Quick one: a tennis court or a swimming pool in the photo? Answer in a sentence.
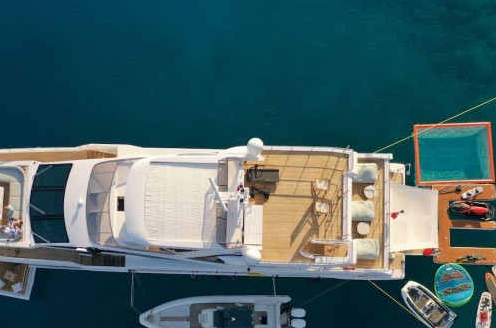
The one in the frame is a swimming pool.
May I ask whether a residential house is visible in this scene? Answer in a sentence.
No, no residential house is visible in the view.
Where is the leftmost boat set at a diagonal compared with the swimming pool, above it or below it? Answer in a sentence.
The leftmost boat set at a diagonal appears below the swimming pool in the picture.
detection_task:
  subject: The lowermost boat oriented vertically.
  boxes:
[477,292,492,328]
